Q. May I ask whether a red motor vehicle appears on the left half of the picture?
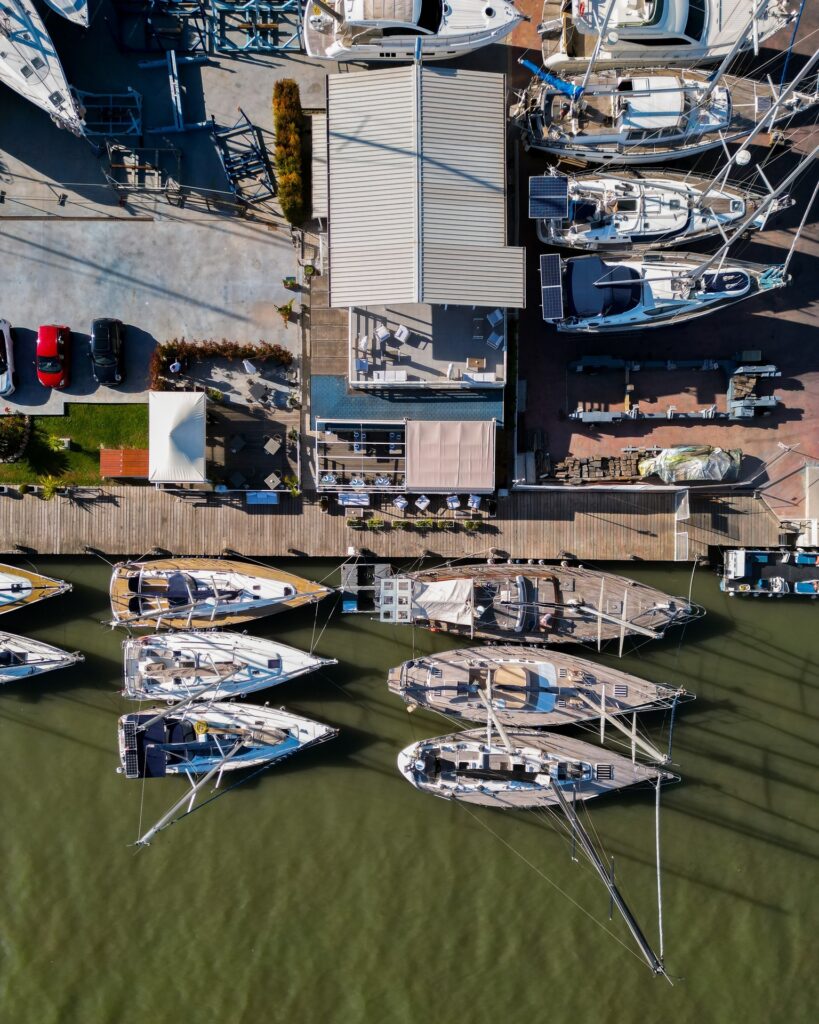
Yes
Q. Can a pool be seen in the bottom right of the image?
No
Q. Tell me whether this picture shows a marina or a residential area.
marina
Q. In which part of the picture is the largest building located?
top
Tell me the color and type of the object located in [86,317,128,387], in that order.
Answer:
black car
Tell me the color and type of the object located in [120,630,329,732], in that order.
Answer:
white boat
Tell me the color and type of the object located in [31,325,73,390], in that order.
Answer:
red car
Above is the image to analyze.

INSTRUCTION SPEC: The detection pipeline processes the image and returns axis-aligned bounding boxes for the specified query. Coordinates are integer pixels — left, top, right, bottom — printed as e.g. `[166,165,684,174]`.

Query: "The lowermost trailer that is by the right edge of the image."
[570,352,781,424]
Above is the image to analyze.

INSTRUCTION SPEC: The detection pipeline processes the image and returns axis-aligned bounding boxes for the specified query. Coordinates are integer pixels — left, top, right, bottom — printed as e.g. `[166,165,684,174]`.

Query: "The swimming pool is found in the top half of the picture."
[308,376,505,437]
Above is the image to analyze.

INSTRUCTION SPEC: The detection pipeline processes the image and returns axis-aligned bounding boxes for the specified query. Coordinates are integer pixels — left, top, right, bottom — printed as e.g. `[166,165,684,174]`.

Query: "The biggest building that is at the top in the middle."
[313,66,528,390]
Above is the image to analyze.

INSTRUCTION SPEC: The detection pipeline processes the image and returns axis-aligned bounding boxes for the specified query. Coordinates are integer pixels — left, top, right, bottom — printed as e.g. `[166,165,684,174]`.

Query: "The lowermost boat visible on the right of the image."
[398,725,679,988]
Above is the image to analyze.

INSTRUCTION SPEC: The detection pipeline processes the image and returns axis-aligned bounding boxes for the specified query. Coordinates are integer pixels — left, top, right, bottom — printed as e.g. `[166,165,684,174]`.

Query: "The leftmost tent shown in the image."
[149,392,216,487]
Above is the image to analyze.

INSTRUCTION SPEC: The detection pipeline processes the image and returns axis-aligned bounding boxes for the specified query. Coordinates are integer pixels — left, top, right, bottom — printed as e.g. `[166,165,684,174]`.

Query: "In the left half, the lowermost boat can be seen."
[115,702,339,851]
